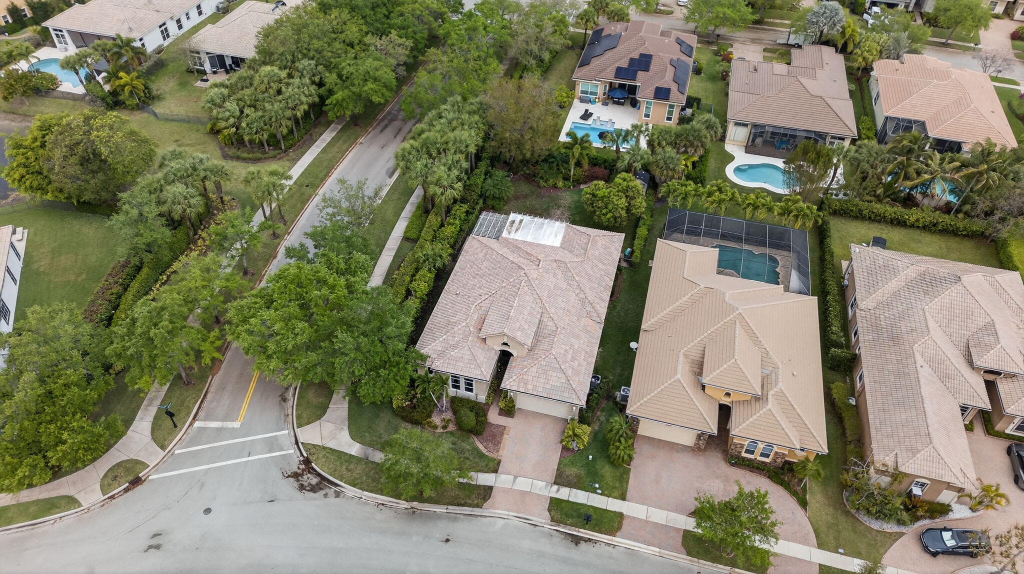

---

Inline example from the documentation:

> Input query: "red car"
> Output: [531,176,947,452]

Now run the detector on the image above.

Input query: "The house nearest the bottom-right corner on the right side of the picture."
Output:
[845,242,1024,507]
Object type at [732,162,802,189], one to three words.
swimming pool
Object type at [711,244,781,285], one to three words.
swimming pool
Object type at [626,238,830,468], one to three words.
house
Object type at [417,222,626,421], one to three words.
house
